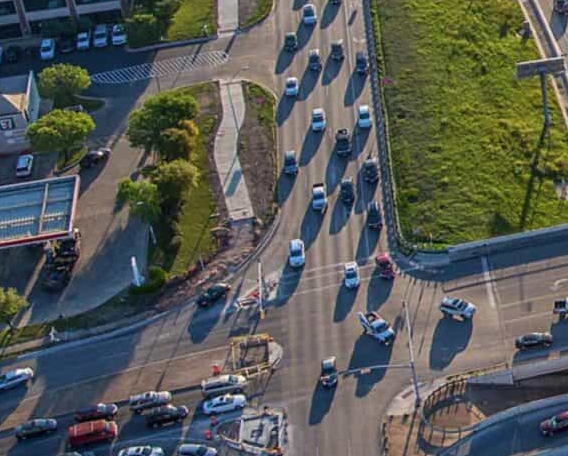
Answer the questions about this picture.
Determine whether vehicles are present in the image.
Yes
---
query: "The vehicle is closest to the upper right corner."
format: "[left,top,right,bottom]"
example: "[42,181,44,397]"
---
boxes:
[552,0,568,13]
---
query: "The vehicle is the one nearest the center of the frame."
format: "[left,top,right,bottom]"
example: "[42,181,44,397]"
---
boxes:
[287,240,305,265]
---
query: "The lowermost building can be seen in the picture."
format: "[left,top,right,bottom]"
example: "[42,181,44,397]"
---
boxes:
[0,63,42,153]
